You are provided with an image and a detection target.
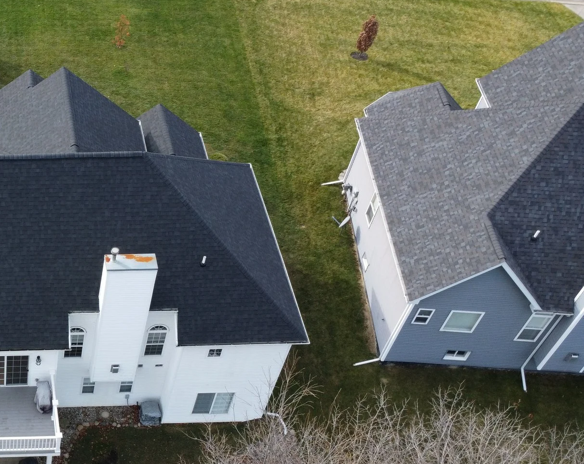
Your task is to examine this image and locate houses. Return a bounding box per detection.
[343,26,584,387]
[0,66,313,424]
